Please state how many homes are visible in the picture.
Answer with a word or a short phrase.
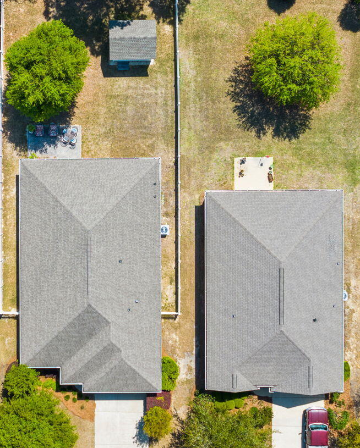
2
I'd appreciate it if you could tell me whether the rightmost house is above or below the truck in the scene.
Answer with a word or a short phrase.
above it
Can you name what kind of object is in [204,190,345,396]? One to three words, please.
house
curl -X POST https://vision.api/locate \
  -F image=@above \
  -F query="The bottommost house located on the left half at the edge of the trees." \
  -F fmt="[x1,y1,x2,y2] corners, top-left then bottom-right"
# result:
[19,159,162,394]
